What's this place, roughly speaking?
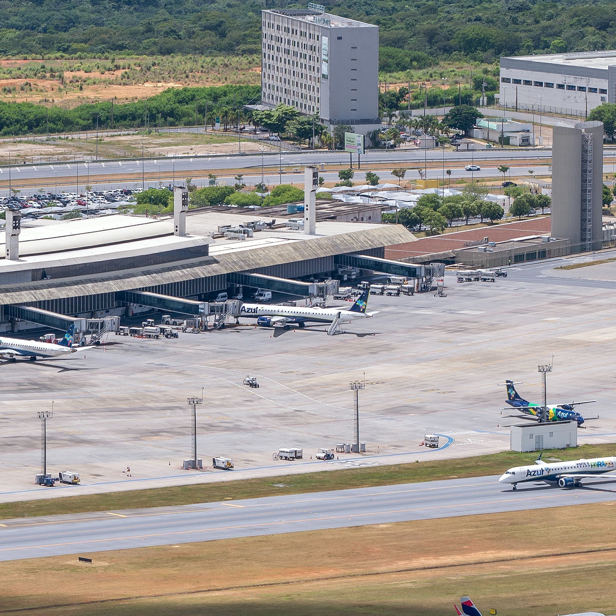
airport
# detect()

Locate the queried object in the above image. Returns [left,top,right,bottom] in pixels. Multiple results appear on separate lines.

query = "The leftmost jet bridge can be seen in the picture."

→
[4,304,122,350]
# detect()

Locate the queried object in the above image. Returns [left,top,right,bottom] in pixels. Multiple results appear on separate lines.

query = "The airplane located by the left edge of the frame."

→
[0,321,95,361]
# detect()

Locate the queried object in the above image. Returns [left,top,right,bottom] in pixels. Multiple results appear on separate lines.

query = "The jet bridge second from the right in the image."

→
[230,272,341,308]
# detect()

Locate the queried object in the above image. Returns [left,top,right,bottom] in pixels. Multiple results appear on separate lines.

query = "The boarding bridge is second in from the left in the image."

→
[121,289,241,332]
